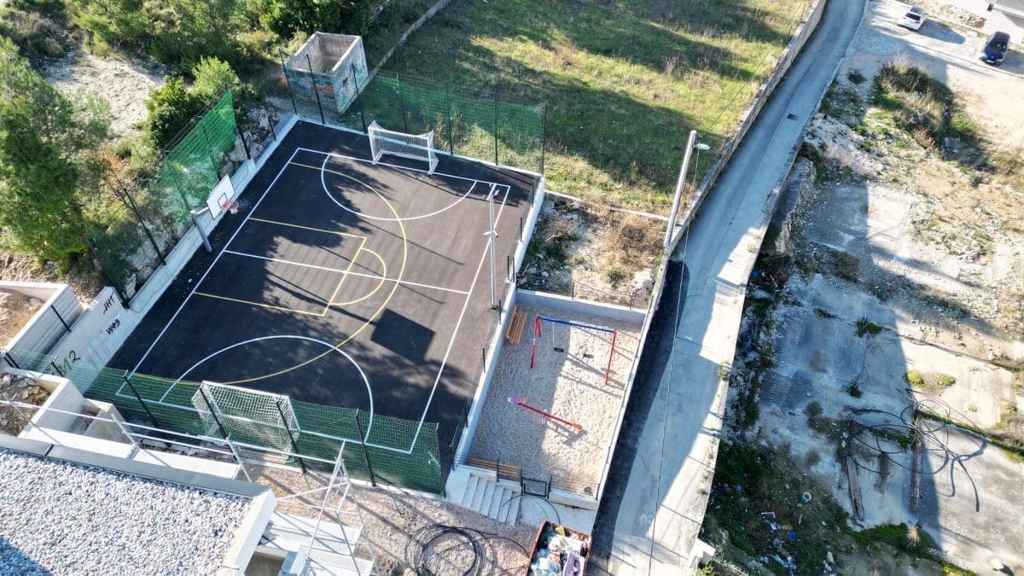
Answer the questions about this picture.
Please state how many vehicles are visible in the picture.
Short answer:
two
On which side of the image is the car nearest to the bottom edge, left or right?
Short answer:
right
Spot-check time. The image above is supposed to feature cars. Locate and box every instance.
[978,31,1014,66]
[897,2,931,29]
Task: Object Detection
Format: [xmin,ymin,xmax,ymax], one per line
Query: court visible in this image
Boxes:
[78,118,541,497]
